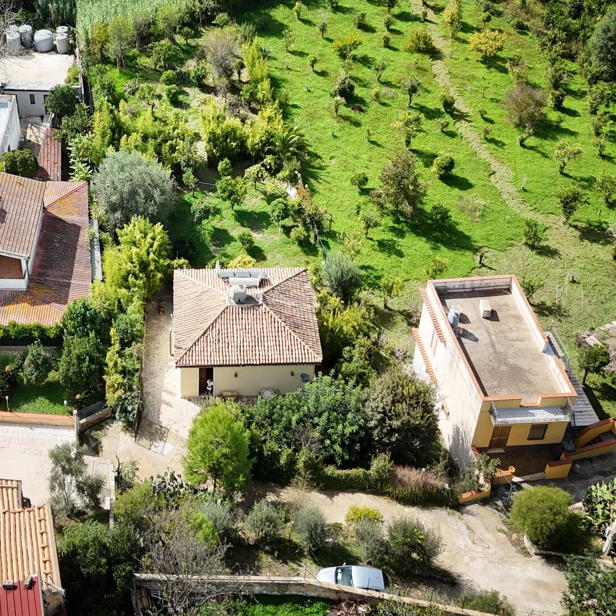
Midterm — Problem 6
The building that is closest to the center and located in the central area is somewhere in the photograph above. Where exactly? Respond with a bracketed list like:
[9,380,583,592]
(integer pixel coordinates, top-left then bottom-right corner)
[172,266,324,390]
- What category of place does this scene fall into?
residential area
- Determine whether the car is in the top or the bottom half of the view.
bottom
